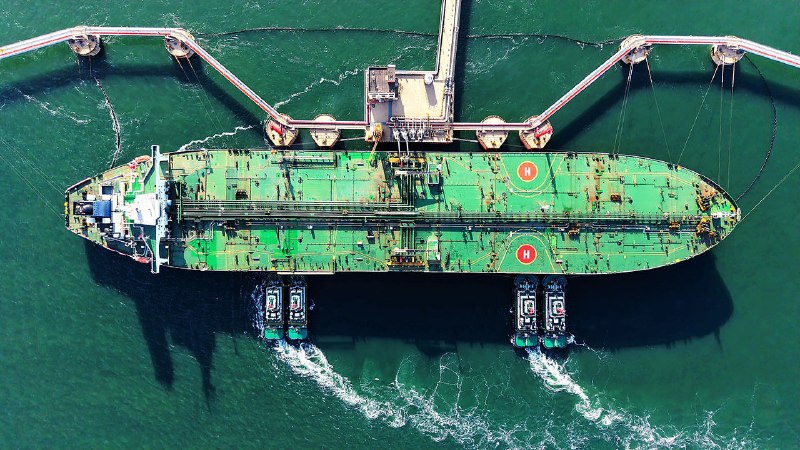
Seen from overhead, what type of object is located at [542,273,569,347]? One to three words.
boat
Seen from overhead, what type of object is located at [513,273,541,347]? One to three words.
boat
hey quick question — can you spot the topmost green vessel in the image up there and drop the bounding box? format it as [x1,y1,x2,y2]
[63,146,742,275]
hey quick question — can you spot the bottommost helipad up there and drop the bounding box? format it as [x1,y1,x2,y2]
[516,244,537,264]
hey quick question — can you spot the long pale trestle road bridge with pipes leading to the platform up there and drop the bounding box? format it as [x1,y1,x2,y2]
[435,0,462,77]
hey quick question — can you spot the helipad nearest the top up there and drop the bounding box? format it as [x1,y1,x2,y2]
[517,162,538,181]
